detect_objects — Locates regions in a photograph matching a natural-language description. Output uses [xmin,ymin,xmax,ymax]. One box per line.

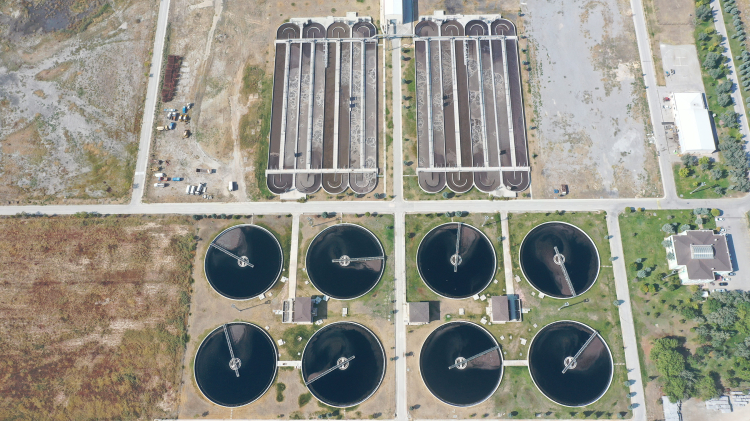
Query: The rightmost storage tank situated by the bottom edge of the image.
[527,321,614,407]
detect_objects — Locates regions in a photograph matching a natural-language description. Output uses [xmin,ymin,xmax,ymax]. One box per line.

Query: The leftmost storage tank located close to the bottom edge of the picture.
[194,321,278,408]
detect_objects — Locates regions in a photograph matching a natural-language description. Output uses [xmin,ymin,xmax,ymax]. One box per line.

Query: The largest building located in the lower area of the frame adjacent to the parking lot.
[658,230,733,285]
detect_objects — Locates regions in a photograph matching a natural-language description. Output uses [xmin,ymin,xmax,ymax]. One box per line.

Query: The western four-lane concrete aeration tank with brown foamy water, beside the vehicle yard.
[266,10,377,201]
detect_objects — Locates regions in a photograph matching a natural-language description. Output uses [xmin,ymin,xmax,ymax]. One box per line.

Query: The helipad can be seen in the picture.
[658,44,703,91]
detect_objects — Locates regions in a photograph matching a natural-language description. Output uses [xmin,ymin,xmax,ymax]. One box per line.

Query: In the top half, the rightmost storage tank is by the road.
[413,8,530,198]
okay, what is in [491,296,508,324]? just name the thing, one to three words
building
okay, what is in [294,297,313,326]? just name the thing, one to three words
building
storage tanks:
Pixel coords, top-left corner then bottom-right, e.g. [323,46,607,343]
[301,321,385,407]
[305,223,385,300]
[194,321,278,408]
[413,8,530,198]
[204,224,283,301]
[419,321,504,407]
[519,221,601,299]
[266,10,377,201]
[527,321,614,407]
[417,222,497,299]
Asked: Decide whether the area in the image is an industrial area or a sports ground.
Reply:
industrial area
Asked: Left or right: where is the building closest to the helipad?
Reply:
right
